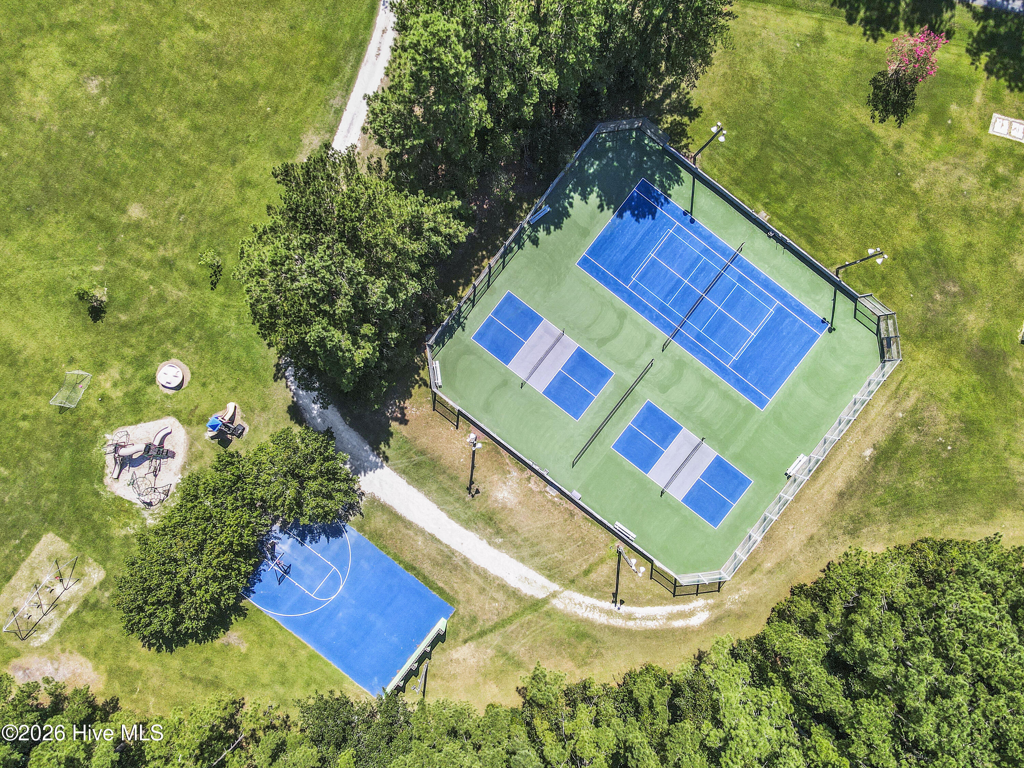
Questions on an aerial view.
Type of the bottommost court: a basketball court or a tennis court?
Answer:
basketball court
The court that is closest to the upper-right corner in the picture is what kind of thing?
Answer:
tennis court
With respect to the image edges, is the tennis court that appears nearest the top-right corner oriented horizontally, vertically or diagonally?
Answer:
diagonally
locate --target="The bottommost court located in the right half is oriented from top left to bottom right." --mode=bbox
[610,399,754,529]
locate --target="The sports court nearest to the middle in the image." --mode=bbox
[472,291,614,420]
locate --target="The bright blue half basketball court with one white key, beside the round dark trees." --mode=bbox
[230,509,455,699]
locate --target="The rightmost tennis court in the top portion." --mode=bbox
[576,179,830,410]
